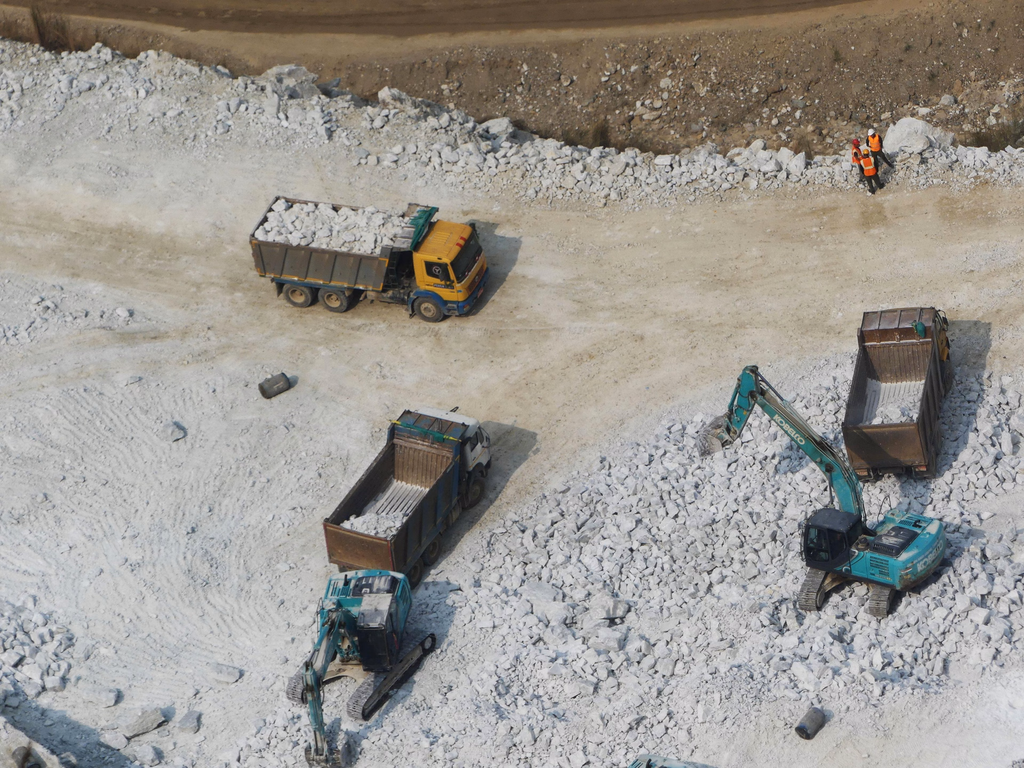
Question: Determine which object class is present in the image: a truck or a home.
truck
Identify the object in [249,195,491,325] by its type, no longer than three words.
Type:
truck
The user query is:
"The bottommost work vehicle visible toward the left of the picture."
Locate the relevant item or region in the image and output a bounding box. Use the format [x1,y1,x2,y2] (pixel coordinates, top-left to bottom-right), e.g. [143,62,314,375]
[282,581,438,768]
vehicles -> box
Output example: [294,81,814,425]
[317,405,498,588]
[624,756,705,768]
[839,304,956,486]
[249,195,491,325]
[282,581,438,768]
